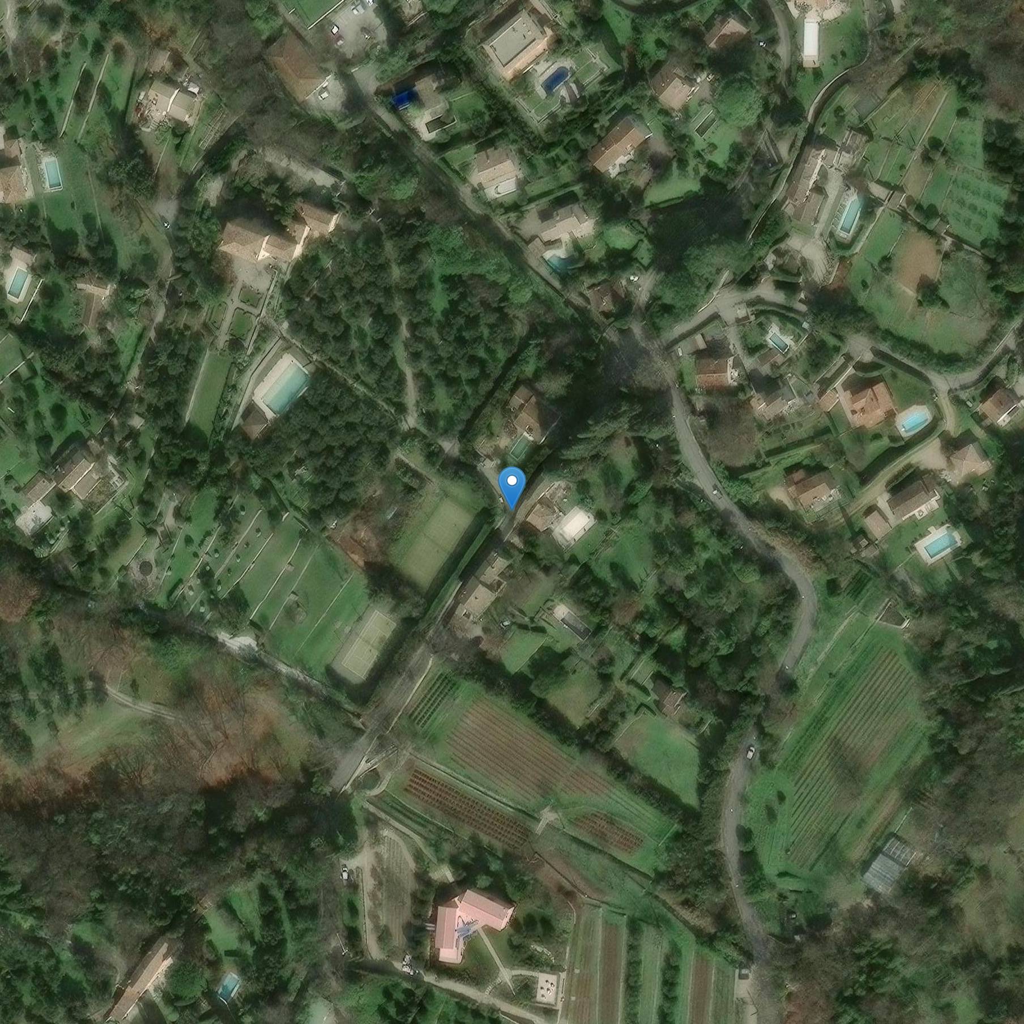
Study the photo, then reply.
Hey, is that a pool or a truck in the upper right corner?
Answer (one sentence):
Visible in the upper right corner is a pool.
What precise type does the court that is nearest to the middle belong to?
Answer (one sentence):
It turns out the court that is nearest to the middle is a tennis court.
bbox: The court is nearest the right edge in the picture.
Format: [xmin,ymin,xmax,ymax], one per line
[394,489,478,592]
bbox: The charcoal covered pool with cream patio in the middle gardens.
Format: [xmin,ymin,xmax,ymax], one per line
[553,604,594,640]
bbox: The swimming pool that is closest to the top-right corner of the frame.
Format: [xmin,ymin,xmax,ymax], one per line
[803,17,820,67]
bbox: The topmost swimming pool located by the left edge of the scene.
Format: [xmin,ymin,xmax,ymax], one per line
[36,145,63,191]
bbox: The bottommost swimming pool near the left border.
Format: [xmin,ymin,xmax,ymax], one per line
[3,260,35,302]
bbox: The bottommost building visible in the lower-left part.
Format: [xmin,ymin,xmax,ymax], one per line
[105,940,173,1024]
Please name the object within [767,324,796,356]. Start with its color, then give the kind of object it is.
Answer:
white swimming pool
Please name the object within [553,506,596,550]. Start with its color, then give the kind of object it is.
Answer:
white swimming pool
